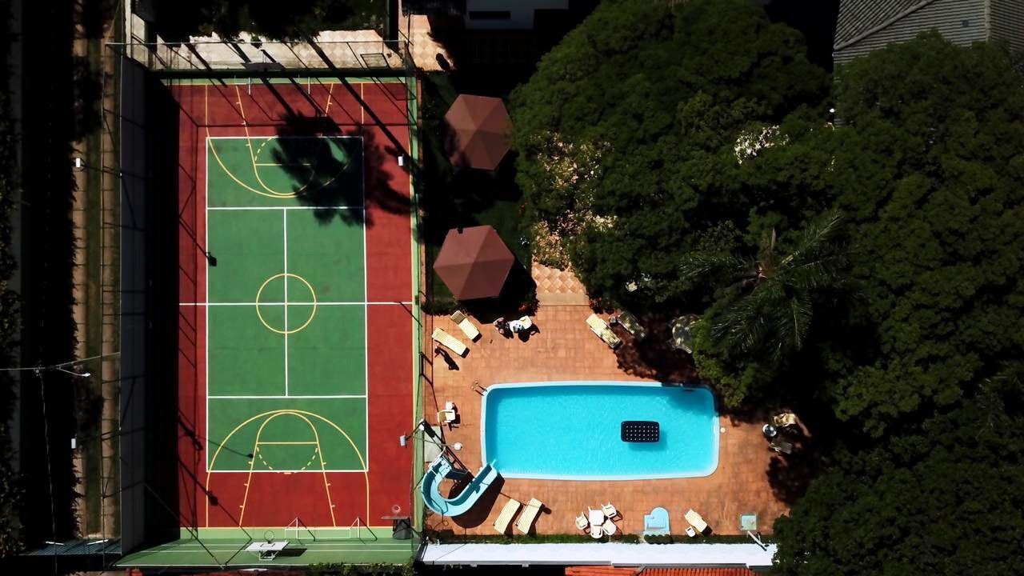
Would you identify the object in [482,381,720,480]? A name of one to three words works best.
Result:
swimming pool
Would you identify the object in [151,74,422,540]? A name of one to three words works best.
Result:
sports court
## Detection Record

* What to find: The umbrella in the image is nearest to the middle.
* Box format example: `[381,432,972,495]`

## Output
[433,226,516,300]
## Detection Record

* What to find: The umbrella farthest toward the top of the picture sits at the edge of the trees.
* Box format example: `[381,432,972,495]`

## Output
[439,100,518,171]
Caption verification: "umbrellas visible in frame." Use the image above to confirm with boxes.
[433,226,516,300]
[439,100,518,171]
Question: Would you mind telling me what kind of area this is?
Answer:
sports ground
